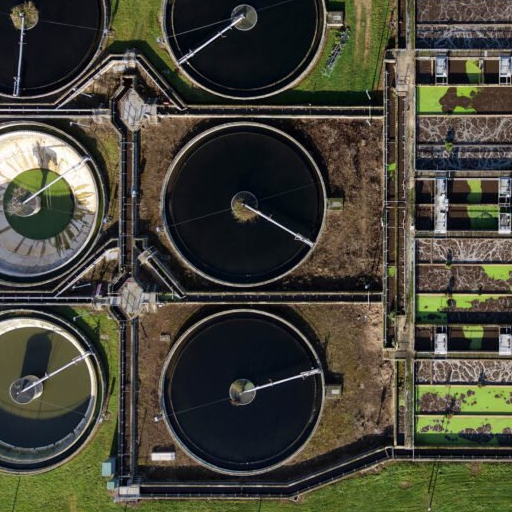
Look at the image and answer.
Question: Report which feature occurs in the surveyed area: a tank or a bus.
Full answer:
Looking from above, you can make out a tank.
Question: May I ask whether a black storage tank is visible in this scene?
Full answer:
Yes, the photo shows a black storage tank.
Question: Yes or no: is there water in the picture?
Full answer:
Yes, the picture does contain water.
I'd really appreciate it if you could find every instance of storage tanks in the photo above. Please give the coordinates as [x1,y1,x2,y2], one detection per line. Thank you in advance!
[163,0,327,98]
[0,309,107,475]
[163,122,327,286]
[160,309,325,474]
[0,121,109,285]
[0,0,109,98]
